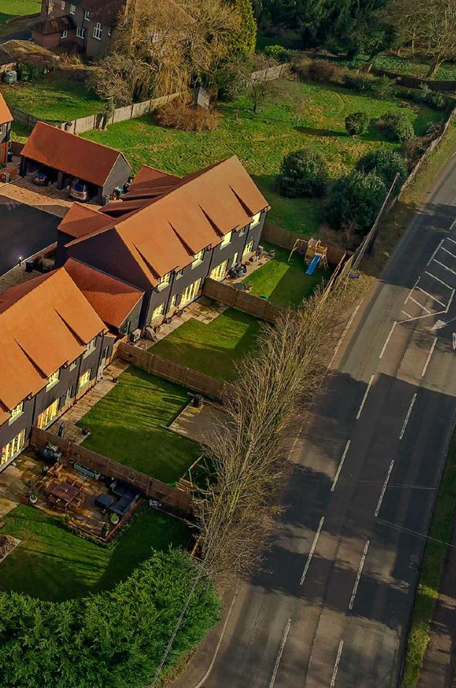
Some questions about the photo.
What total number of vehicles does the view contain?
2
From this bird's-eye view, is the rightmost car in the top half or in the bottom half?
top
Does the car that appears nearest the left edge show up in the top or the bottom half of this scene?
top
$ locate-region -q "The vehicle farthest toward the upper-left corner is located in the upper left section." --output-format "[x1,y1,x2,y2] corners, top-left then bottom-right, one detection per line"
[30,165,59,188]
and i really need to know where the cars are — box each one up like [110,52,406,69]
[30,165,59,188]
[67,177,94,203]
